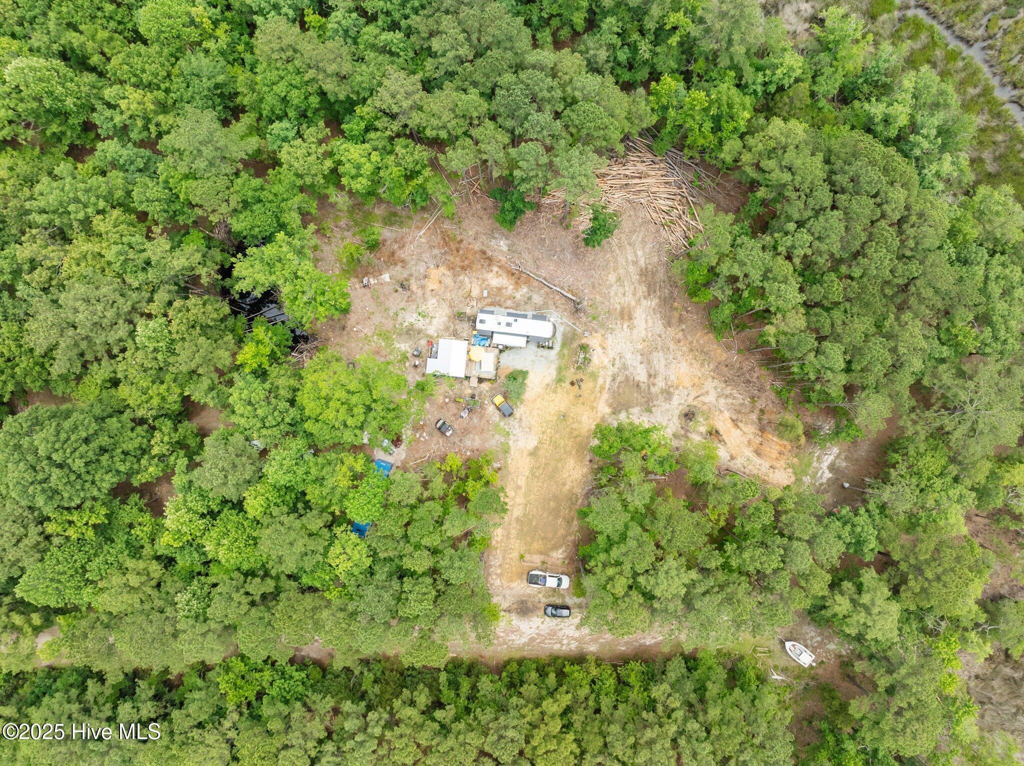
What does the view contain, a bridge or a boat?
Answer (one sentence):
It is a boat that can be seen here.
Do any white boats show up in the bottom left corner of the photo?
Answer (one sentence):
No, no white boat appears in the bottom left corner of the photo.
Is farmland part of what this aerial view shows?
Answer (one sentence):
No, there's no farmland in this view.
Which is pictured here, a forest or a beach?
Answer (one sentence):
This image shows a forest.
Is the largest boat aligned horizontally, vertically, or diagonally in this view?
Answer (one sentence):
What the image shows is the largest boat lying diagonally.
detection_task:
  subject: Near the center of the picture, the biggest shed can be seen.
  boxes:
[426,338,468,377]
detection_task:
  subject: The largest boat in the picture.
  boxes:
[789,643,818,670]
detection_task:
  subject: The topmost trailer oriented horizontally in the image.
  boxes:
[475,309,556,347]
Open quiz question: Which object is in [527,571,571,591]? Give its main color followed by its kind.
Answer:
white vehicle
